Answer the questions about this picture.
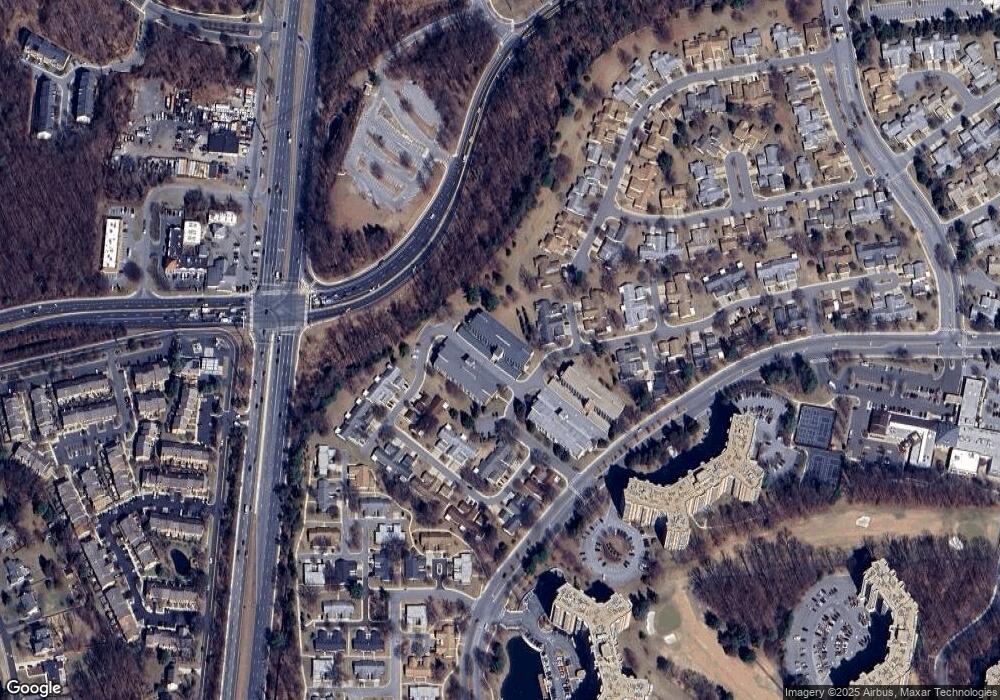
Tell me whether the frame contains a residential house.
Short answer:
Yes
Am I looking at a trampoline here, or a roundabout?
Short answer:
roundabout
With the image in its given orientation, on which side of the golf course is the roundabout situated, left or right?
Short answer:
to its left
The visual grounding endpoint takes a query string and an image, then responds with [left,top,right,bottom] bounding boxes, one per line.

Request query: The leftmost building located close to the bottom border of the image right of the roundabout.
[842,557,920,700]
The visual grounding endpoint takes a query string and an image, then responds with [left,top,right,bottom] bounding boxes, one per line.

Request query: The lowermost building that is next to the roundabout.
[555,581,653,700]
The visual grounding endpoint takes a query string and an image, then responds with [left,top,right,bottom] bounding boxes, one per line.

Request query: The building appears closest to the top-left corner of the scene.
[24,34,70,72]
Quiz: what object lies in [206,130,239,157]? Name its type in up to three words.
shed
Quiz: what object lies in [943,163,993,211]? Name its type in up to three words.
house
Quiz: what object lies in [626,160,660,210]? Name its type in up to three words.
house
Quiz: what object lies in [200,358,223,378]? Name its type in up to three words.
building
